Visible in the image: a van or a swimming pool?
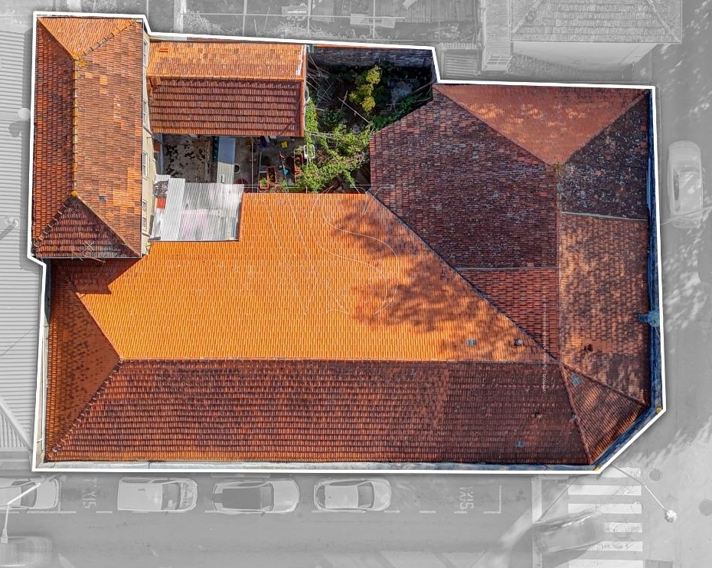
van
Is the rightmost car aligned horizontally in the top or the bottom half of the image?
bottom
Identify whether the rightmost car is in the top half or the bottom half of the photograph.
top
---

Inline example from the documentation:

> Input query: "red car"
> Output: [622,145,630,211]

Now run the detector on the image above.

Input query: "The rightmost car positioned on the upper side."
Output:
[665,139,707,229]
